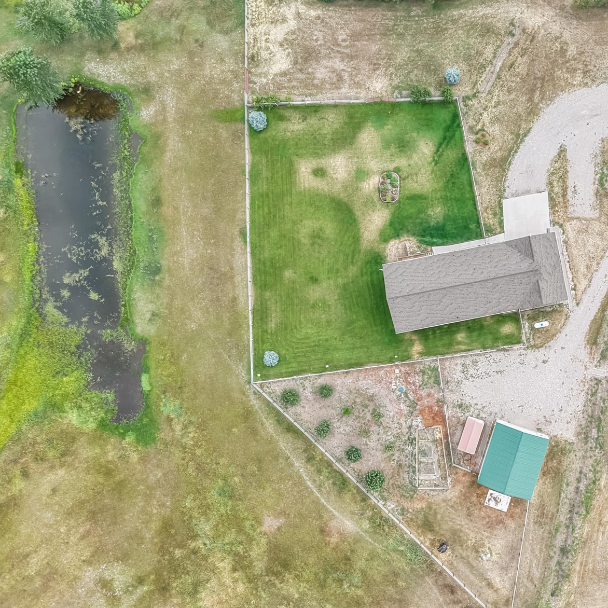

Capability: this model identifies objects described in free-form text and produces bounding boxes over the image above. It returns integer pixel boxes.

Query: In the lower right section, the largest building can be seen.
[476,420,550,500]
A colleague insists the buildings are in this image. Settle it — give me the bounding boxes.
[476,420,550,500]
[378,228,569,334]
[458,417,485,454]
